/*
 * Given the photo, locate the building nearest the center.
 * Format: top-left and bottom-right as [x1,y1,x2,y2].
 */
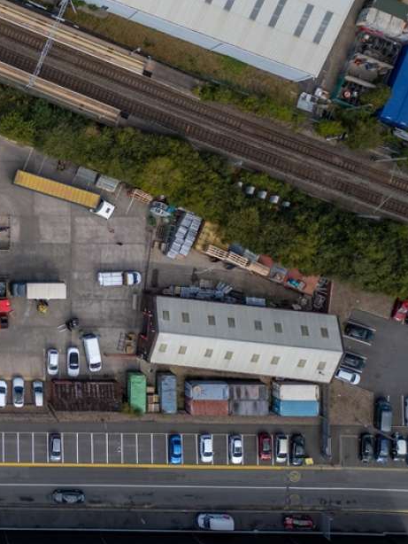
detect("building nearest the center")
[140,292,346,383]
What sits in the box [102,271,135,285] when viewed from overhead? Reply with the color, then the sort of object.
white vehicle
